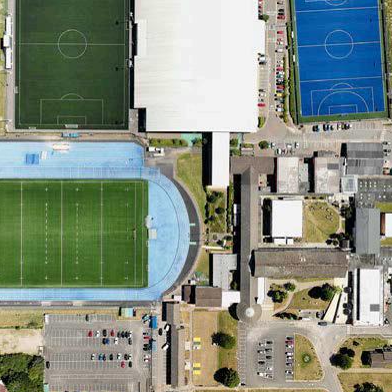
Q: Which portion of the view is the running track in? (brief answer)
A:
left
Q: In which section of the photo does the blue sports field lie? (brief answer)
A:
top right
